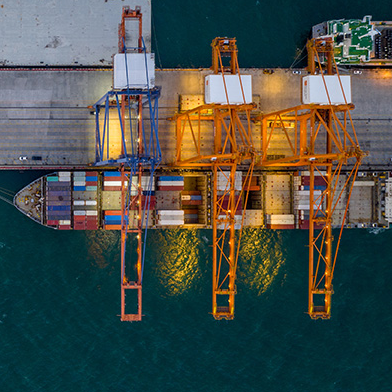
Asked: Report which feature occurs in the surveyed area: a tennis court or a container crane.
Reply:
container crane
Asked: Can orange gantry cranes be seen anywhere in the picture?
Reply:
Yes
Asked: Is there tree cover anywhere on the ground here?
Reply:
No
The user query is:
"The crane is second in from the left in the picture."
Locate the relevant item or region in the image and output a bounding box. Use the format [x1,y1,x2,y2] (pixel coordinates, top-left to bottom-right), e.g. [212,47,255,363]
[169,30,266,323]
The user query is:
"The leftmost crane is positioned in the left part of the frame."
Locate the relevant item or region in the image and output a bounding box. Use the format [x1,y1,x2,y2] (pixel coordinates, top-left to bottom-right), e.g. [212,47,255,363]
[87,10,160,322]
